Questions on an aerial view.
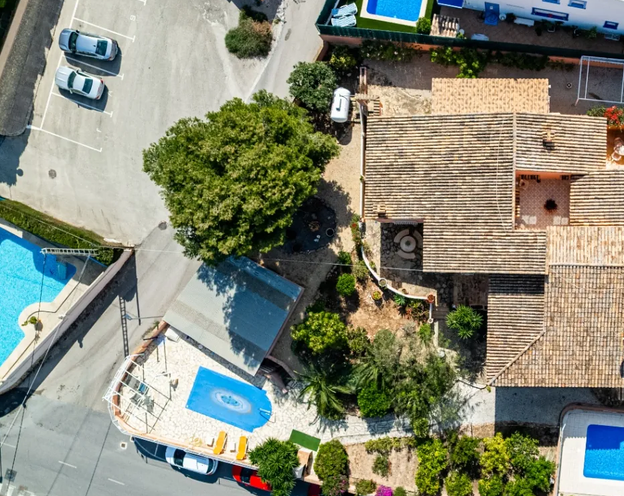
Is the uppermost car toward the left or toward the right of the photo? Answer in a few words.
left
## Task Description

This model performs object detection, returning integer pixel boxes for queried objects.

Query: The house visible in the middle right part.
[353,78,624,403]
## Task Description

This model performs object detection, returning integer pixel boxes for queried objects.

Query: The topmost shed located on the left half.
[163,259,315,376]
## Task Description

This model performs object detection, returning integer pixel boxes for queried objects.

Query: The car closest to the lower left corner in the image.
[164,447,221,478]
